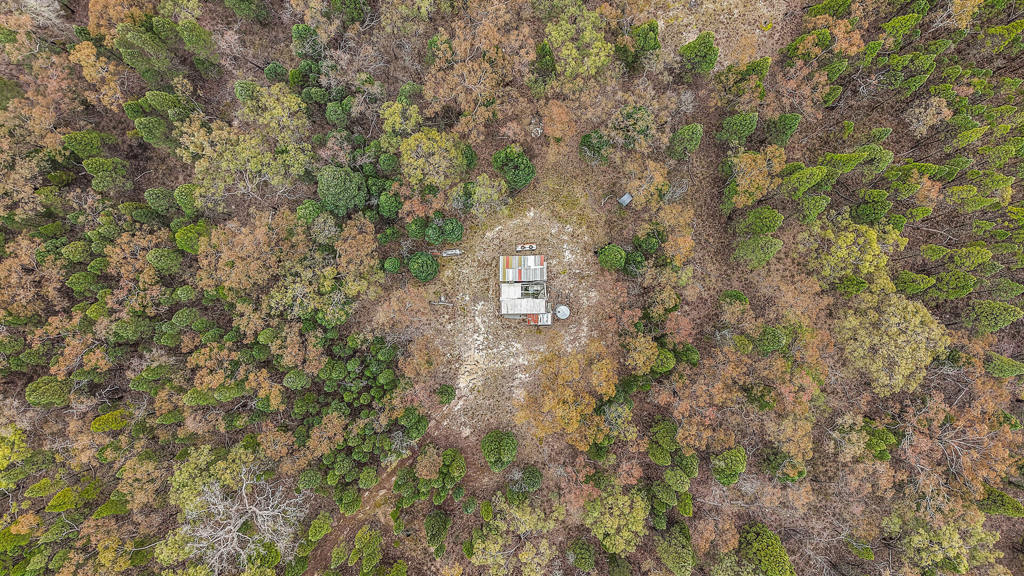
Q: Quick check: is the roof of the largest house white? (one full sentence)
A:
Yes, the roof of the largest house appears white.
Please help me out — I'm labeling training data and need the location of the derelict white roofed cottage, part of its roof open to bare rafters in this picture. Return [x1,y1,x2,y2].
[500,283,553,325]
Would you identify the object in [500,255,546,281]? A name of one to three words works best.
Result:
shed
